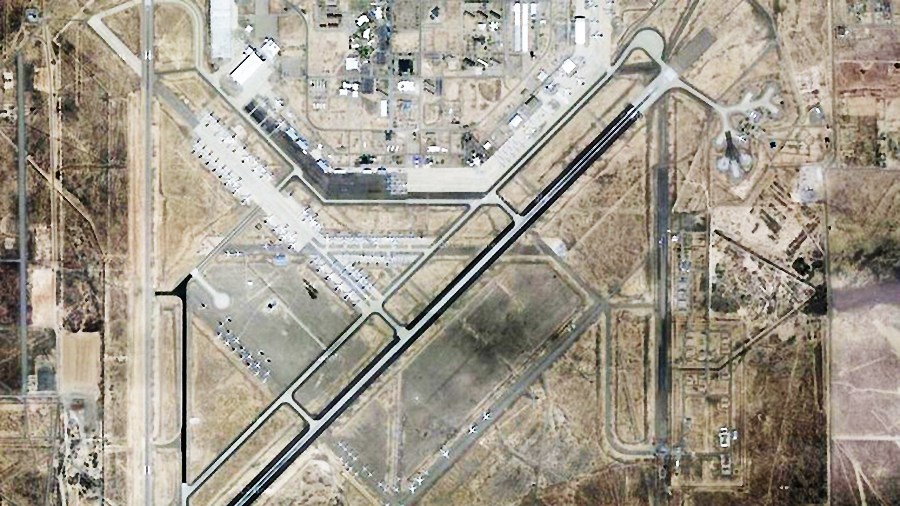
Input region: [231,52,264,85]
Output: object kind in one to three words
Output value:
hangar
